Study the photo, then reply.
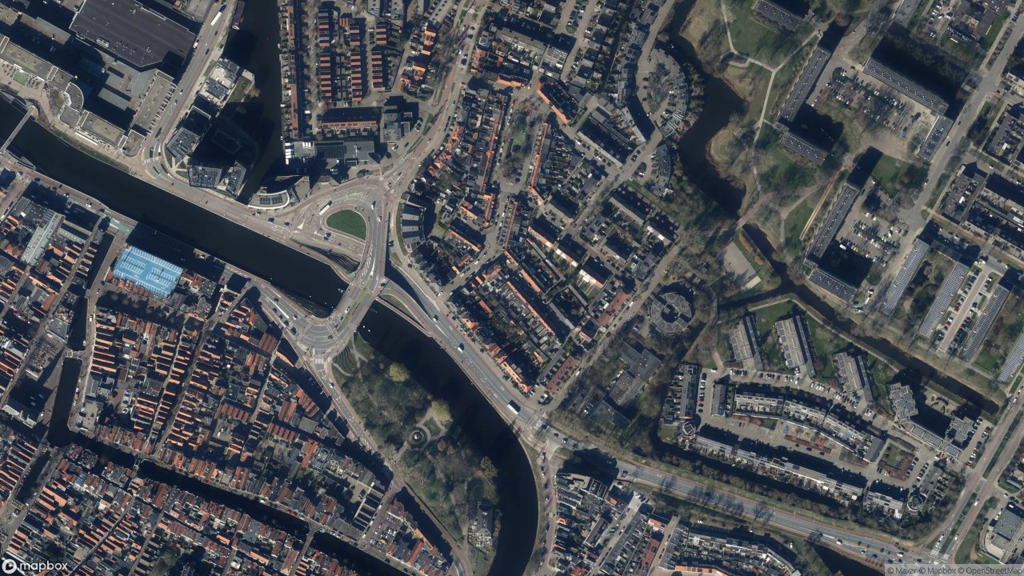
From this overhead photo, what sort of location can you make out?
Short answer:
residential area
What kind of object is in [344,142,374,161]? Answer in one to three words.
building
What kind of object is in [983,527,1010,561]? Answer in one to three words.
building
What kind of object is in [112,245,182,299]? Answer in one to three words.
house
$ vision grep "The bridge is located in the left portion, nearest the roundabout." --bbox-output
[331,266,381,329]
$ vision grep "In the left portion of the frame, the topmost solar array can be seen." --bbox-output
[202,62,230,102]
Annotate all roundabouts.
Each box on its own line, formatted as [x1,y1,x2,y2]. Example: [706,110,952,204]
[323,208,367,241]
